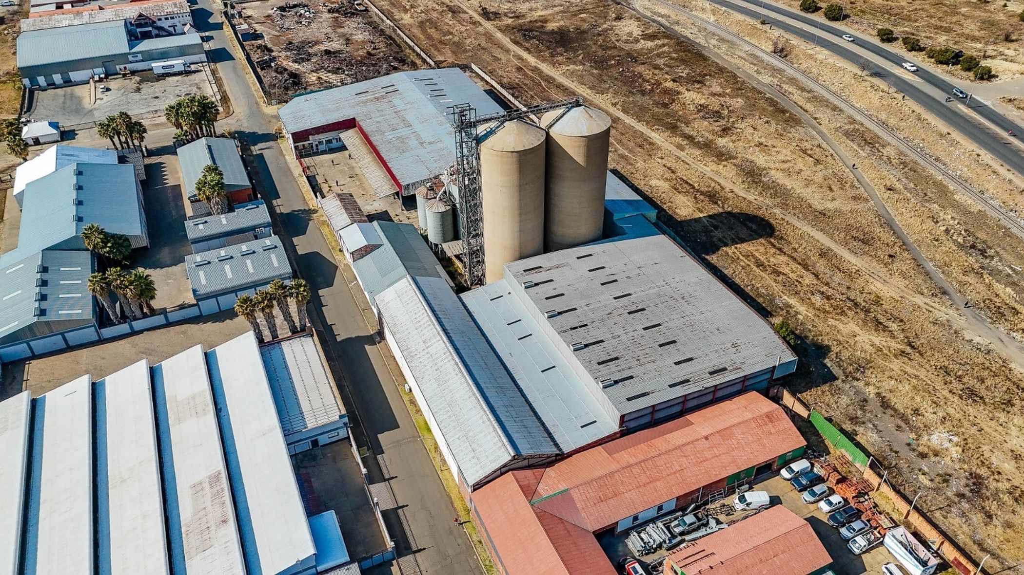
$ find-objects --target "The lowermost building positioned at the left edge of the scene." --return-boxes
[0,329,319,575]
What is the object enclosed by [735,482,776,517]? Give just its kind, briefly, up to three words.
vehicle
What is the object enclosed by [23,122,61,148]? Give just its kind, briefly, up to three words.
building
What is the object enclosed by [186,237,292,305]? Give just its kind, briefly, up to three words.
building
